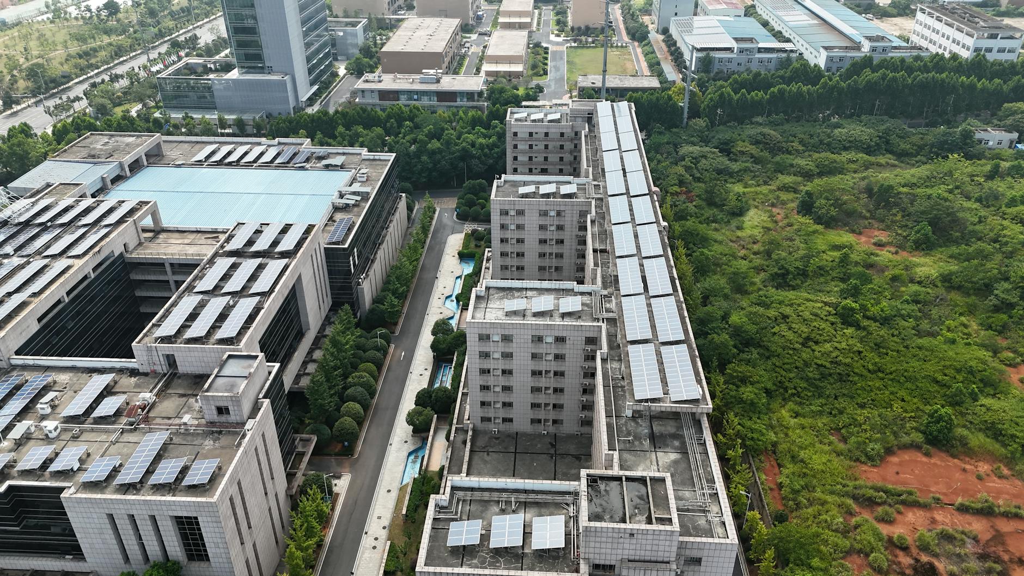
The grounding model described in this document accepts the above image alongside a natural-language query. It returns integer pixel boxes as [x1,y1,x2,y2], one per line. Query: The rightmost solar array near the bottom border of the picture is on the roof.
[531,515,565,559]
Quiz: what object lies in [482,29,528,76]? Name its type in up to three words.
building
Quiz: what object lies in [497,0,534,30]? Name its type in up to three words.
building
